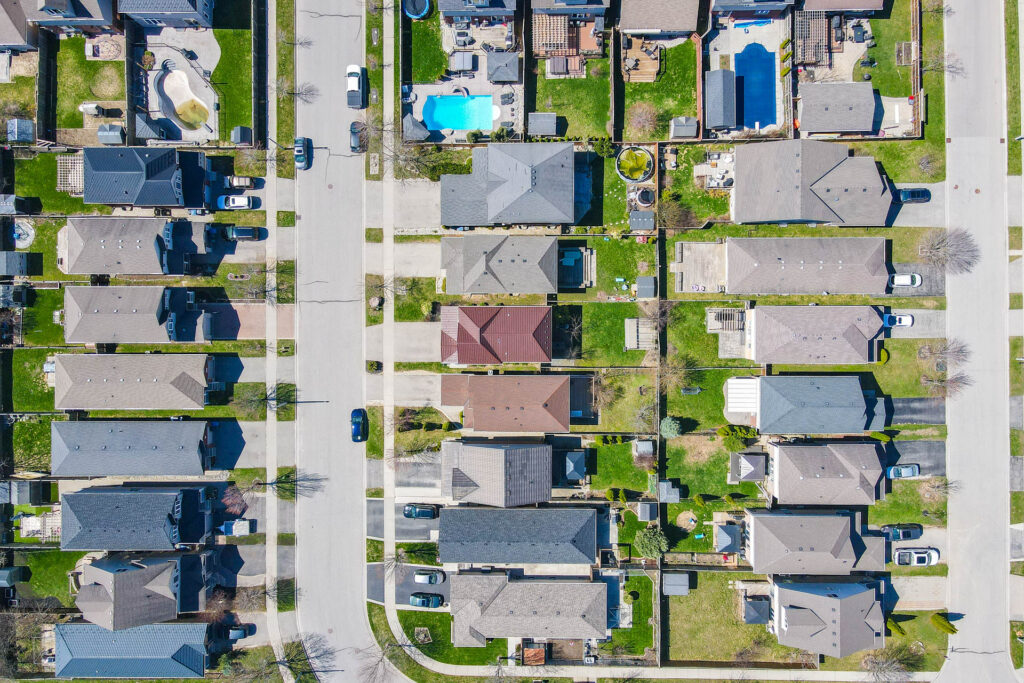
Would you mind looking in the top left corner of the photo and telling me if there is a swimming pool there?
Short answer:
Yes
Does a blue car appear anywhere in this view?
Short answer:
Yes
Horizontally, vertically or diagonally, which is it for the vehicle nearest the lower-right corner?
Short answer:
horizontally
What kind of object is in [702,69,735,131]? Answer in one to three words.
building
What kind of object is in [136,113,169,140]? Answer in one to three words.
gazebo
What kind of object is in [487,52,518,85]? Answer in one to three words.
gazebo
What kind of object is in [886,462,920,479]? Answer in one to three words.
car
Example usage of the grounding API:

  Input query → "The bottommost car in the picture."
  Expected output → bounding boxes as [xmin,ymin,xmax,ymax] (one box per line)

[227,624,252,642]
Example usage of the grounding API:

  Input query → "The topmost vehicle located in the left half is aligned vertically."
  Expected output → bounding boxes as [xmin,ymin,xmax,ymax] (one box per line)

[346,65,364,109]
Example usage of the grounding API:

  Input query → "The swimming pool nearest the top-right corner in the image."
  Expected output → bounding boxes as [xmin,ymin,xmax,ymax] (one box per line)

[735,41,776,131]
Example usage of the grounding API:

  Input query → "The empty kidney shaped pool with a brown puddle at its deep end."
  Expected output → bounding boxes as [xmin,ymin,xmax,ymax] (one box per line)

[152,57,210,131]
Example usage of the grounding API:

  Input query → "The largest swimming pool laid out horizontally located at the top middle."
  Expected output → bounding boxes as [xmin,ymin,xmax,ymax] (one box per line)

[421,94,504,131]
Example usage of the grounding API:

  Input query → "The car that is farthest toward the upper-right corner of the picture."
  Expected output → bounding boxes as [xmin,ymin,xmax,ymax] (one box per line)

[896,187,930,204]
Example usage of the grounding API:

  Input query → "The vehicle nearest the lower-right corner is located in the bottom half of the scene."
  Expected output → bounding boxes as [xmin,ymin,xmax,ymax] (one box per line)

[891,547,939,567]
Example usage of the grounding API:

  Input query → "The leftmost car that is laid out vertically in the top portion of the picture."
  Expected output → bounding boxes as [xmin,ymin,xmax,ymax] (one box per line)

[294,137,309,170]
